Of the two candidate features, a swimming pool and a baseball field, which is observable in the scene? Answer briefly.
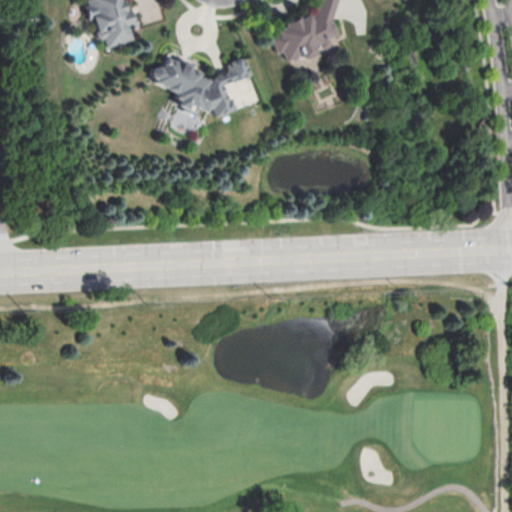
swimming pool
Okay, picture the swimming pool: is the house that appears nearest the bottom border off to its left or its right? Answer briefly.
to the right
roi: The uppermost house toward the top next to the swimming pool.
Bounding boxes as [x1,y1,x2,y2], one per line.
[84,0,140,51]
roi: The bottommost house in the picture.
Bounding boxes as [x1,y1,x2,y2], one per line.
[148,56,255,118]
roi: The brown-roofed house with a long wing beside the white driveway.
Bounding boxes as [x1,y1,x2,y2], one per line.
[268,0,342,66]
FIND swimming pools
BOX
[64,34,99,74]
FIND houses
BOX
[148,56,255,118]
[268,0,342,66]
[84,0,140,51]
